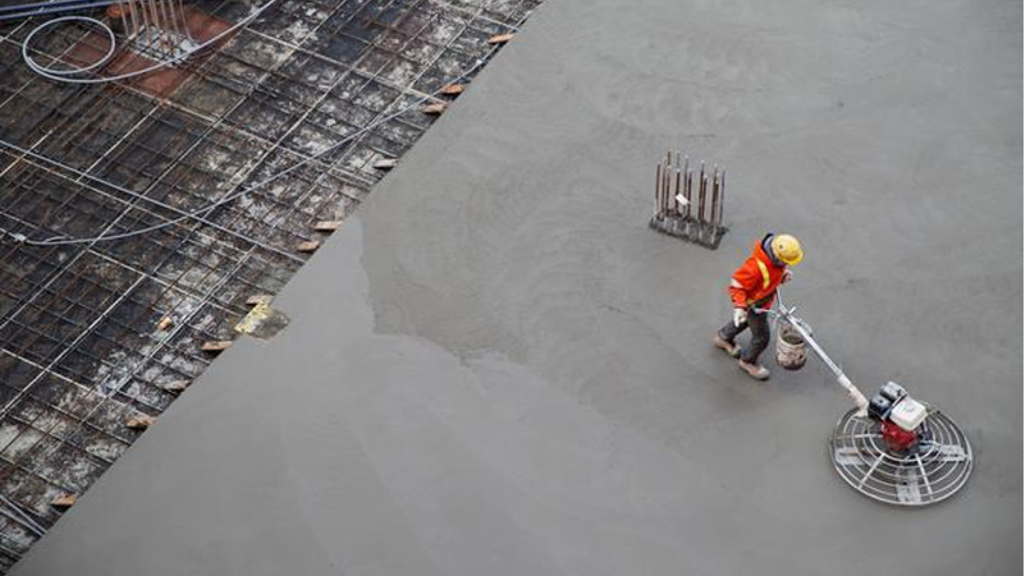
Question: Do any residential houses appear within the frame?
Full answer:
No, the frame has no residential house in it.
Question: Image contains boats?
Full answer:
No, there appears to be no boat in this shot.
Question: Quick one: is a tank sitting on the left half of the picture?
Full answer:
No, the scene shows no tank on the left half of the picture.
